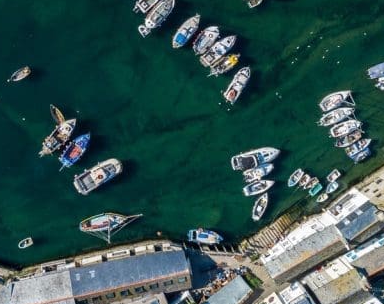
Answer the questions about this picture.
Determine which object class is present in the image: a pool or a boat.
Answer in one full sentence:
It is a boat that can be seen here.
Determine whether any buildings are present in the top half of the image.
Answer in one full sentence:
No, there's no building to be seen in the top half of the image.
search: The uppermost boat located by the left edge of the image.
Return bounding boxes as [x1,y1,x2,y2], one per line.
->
[6,69,30,83]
